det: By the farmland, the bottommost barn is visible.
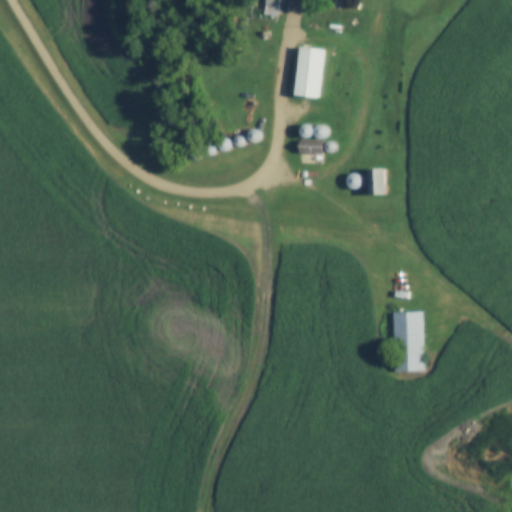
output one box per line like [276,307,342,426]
[392,311,427,372]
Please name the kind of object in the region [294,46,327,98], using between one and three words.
shed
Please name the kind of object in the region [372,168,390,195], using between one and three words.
shed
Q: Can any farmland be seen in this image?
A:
Yes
